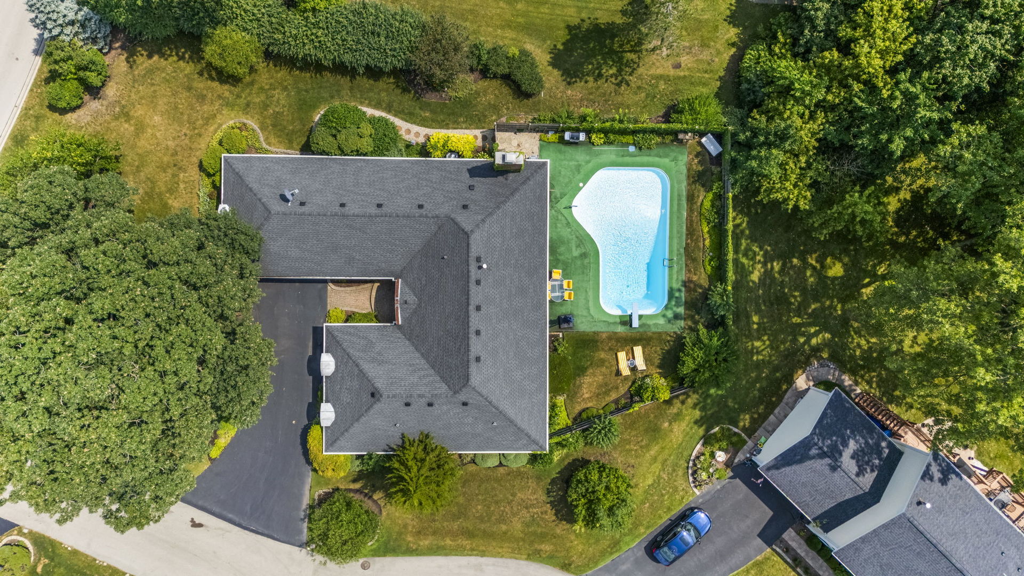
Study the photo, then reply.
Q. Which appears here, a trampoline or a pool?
pool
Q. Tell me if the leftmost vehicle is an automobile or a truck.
automobile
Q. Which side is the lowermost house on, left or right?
right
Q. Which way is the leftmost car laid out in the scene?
at an angle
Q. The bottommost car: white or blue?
blue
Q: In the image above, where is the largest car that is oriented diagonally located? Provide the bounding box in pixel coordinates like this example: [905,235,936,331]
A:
[653,508,711,566]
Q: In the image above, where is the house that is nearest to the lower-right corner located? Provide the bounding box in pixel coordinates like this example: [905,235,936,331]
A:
[749,387,1024,576]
